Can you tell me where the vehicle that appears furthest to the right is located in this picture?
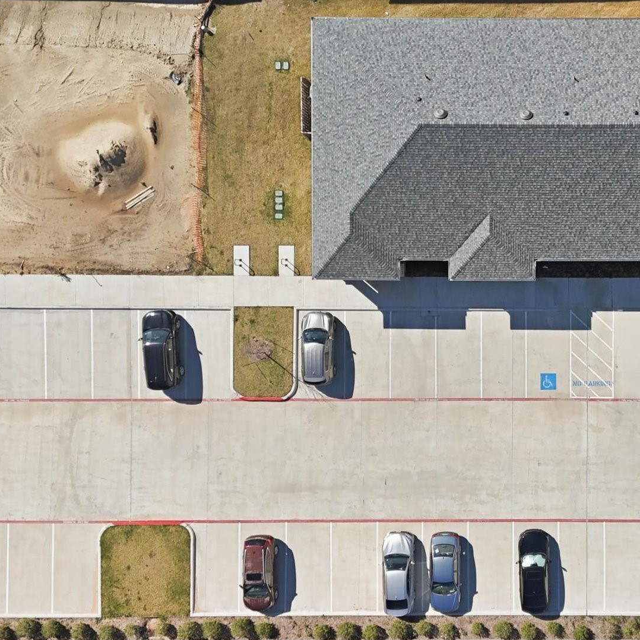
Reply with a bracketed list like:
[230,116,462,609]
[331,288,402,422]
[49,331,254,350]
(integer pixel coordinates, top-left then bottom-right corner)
[514,527,551,614]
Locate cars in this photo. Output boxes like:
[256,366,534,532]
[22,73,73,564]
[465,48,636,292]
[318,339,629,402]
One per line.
[137,310,184,389]
[426,531,462,612]
[297,311,336,386]
[237,533,278,609]
[379,530,417,615]
[514,527,551,614]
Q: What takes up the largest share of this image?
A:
paved ground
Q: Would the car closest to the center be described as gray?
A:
Yes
